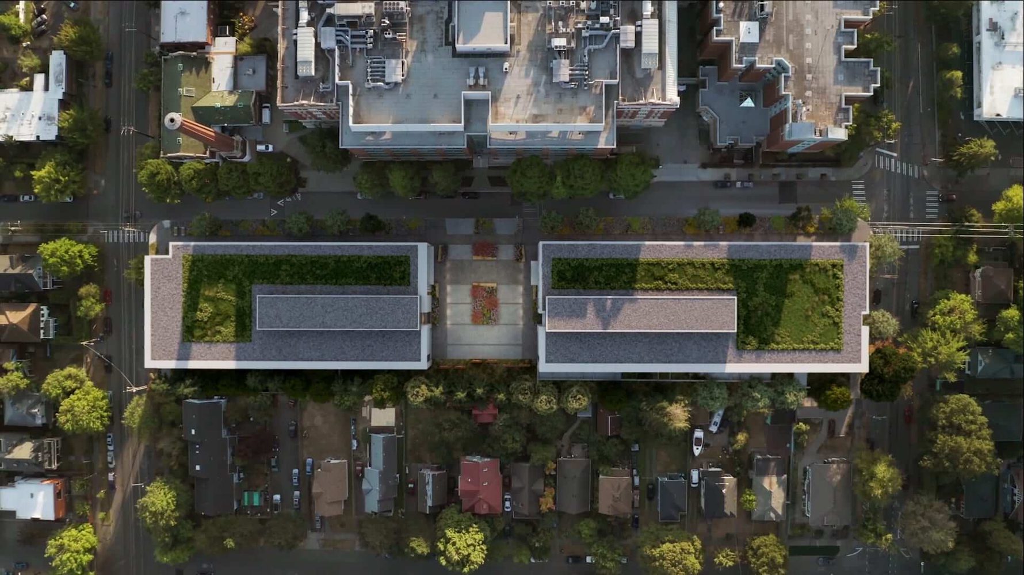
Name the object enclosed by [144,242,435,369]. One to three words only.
building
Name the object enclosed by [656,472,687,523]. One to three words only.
house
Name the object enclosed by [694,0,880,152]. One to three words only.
building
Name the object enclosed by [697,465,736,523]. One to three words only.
house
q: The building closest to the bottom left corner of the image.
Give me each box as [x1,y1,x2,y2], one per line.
[0,473,74,520]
